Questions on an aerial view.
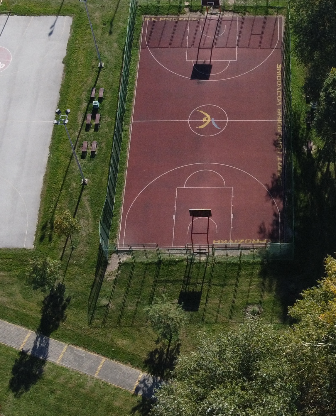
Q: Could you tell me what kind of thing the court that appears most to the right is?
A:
basketball court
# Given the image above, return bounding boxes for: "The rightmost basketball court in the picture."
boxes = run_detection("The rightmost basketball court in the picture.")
[114,14,289,252]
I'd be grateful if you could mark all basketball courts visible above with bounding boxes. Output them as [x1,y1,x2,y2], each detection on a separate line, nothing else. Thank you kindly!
[114,14,289,252]
[0,16,72,248]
